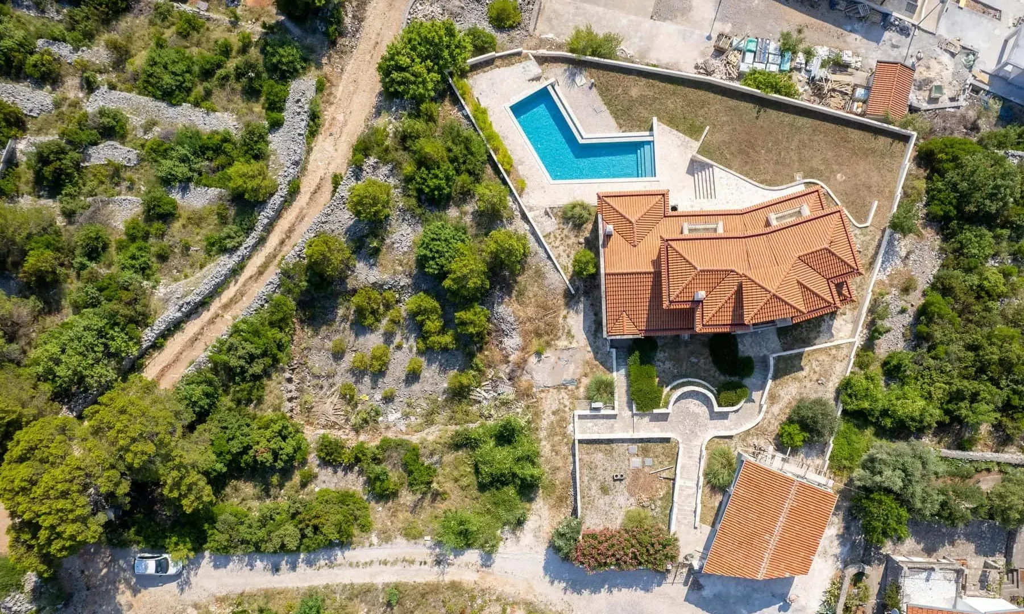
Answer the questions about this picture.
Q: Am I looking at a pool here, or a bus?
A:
pool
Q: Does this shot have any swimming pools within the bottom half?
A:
No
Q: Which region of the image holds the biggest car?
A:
bottom left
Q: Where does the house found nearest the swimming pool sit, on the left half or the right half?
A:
right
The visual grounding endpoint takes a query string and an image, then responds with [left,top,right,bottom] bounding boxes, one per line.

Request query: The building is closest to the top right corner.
[969,6,1024,109]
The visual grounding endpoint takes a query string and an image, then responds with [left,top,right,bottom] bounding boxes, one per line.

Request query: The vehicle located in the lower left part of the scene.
[134,554,183,579]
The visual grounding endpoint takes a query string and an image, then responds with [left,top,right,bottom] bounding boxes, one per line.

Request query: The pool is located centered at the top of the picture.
[503,78,659,184]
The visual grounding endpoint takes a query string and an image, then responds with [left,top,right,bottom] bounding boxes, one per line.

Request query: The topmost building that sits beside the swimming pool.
[595,182,865,339]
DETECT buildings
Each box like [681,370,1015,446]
[862,59,916,123]
[595,182,865,339]
[969,6,1024,109]
[701,448,839,581]
[879,548,1024,614]
[868,0,942,37]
